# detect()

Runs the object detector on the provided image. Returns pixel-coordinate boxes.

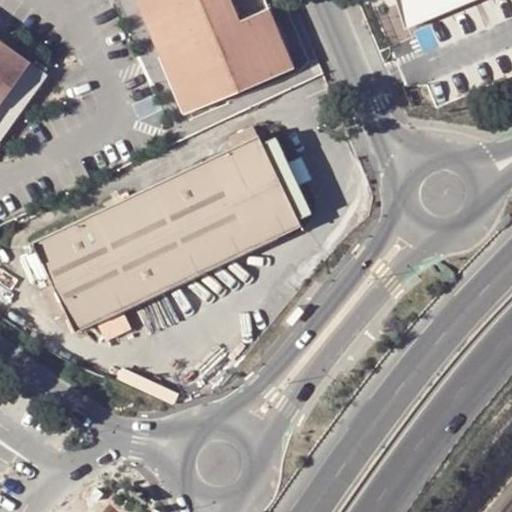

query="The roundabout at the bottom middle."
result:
[165,410,273,512]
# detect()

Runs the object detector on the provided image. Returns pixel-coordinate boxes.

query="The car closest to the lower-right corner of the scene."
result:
[446,412,467,434]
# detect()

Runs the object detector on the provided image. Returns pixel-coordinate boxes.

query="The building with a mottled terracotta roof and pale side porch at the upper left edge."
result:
[0,40,48,147]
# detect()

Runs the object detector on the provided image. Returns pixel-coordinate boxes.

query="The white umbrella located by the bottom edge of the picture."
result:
[90,487,105,502]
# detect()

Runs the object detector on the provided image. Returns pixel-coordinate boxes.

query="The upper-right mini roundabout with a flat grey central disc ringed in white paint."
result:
[390,140,496,246]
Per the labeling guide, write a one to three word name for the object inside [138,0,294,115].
building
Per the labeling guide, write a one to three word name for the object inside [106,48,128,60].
vehicle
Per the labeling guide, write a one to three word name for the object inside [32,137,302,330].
warehouse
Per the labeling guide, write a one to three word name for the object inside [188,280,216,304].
vehicle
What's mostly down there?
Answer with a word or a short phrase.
paved ground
